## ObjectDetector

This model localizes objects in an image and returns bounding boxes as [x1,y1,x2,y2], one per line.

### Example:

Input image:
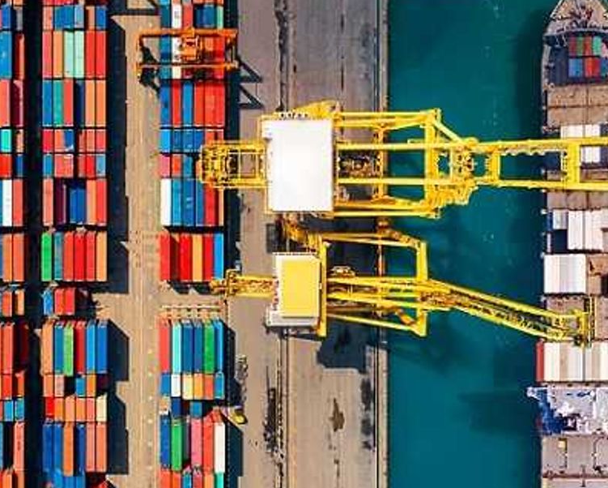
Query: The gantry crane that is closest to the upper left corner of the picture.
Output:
[133,25,237,88]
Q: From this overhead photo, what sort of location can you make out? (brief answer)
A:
port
